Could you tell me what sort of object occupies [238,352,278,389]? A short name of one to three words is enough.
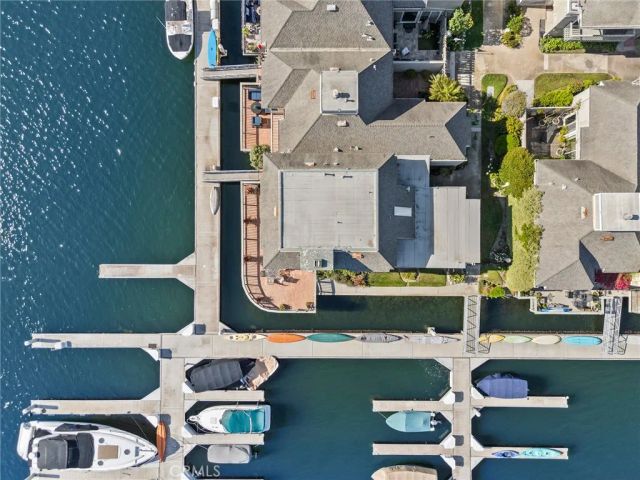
boat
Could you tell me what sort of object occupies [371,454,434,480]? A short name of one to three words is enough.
boat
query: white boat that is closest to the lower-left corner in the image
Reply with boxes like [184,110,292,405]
[18,412,159,472]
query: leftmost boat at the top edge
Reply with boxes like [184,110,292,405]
[151,0,196,61]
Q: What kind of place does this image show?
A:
residential area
